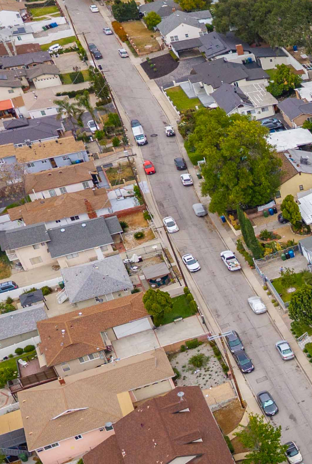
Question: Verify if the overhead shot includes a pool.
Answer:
No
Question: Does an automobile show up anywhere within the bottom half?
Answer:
Yes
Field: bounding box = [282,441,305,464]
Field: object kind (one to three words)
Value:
car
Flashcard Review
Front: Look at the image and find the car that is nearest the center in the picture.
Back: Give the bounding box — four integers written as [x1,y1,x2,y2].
[164,218,179,233]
